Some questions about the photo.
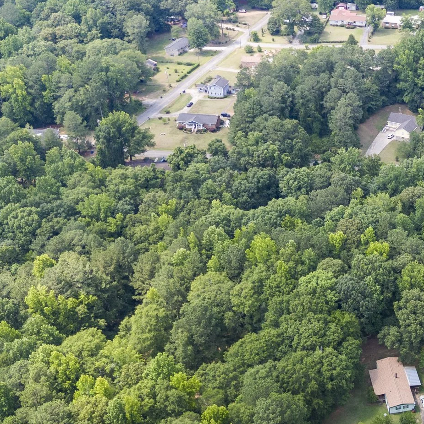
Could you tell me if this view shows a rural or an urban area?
rural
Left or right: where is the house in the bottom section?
right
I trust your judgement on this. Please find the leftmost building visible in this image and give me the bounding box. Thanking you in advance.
[31,128,64,143]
